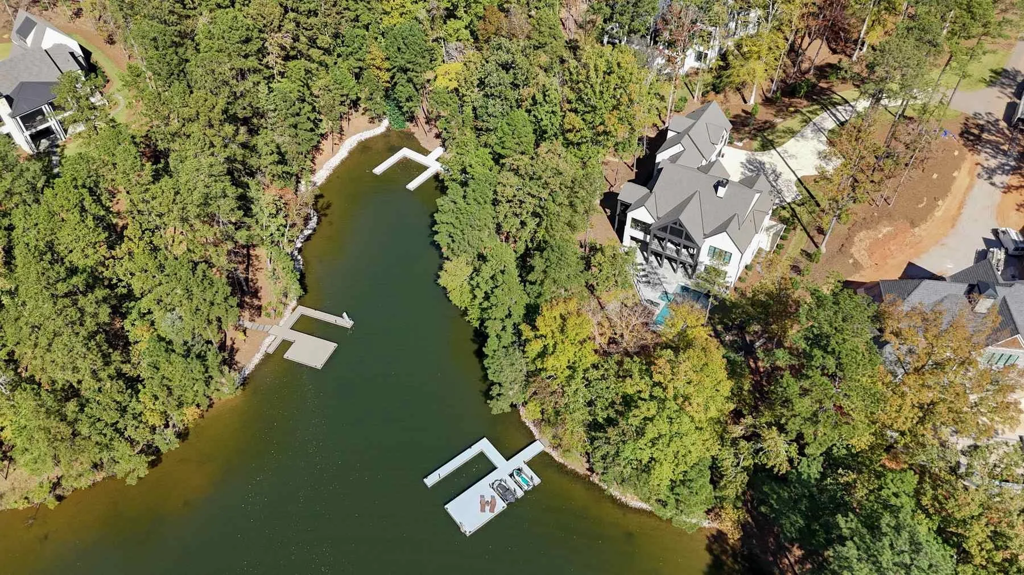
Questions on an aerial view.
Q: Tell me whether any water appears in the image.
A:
Yes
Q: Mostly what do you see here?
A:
trees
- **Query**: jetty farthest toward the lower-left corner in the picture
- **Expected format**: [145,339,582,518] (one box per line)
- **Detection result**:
[265,305,355,371]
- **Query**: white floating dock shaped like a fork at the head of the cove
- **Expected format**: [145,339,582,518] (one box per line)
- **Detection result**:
[371,146,443,192]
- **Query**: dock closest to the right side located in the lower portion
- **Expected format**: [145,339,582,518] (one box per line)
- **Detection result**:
[422,437,543,537]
